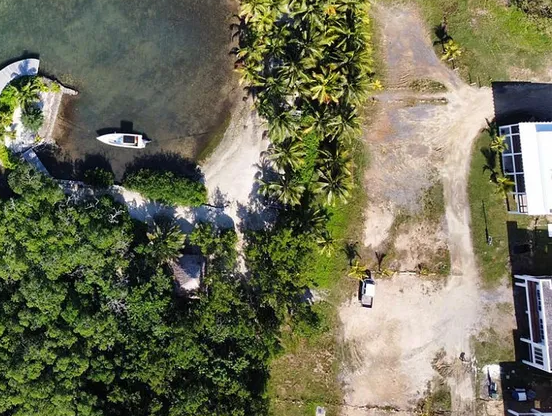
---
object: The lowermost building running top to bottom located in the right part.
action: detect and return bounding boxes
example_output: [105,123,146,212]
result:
[503,270,552,372]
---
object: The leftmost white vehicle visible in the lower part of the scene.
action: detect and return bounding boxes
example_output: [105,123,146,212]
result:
[359,277,377,307]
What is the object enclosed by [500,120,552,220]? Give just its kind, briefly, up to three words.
house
